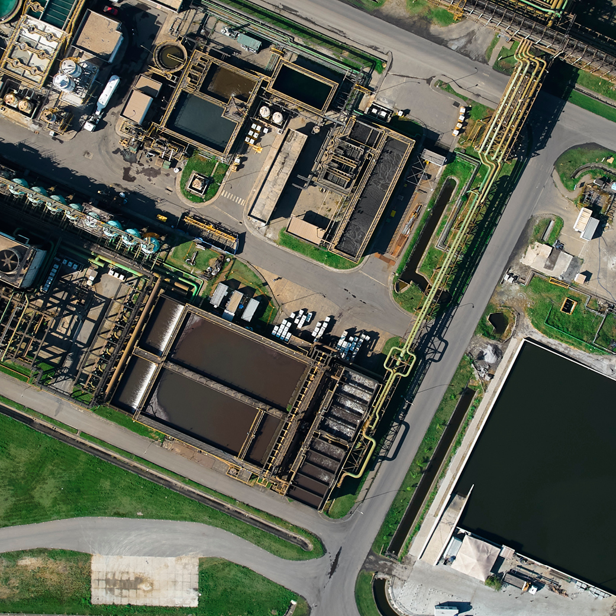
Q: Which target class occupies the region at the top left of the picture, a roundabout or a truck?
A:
truck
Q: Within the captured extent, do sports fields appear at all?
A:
No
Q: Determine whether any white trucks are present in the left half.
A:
Yes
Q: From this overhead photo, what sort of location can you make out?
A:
industrial area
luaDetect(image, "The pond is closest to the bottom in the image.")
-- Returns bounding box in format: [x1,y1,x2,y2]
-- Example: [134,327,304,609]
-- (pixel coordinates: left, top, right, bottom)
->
[419,339,616,593]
